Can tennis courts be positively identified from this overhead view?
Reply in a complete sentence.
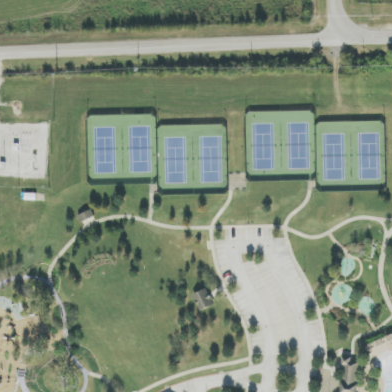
Yes, a tennis court appears in the view.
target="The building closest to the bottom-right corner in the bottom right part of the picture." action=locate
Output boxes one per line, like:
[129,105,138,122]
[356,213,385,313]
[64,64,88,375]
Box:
[338,356,358,392]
